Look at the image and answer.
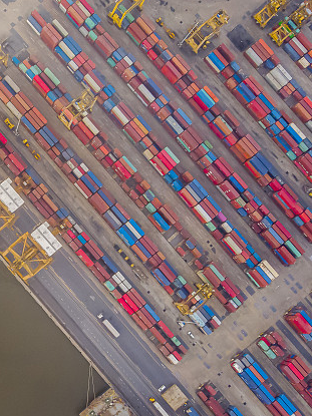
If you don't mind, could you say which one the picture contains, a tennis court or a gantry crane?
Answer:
gantry crane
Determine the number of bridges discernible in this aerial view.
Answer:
0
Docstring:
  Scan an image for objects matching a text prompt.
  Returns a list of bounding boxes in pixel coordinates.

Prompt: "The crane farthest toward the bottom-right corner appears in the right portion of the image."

[166,278,211,315]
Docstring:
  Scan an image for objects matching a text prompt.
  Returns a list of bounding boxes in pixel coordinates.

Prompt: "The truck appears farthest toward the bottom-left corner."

[99,314,121,336]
